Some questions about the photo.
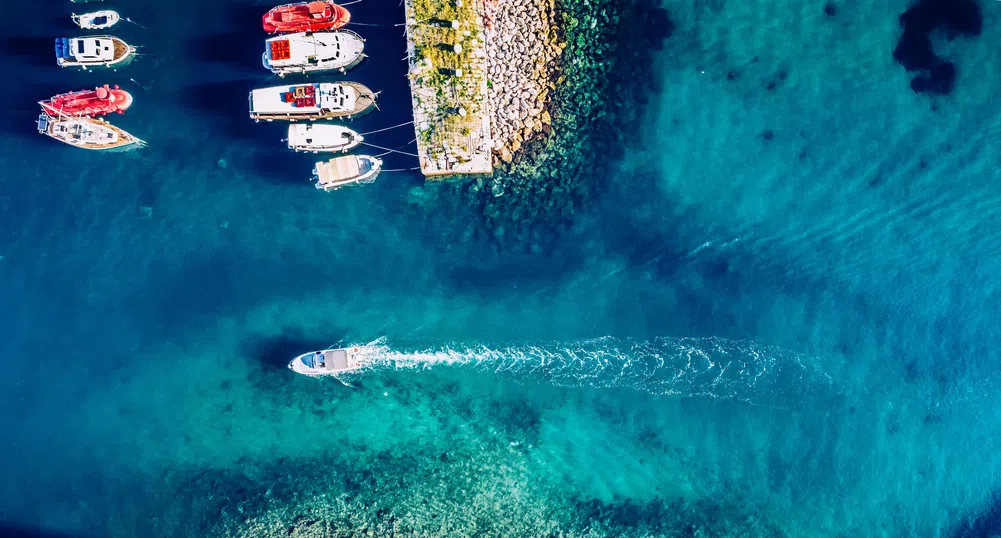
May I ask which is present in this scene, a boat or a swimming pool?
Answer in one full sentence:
The image shows a boat.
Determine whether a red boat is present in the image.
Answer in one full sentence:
Yes, looking at the shot, I can spot a red boat.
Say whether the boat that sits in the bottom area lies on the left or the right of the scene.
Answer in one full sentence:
You can find the boat that sits in the bottom area on the left side of the picture.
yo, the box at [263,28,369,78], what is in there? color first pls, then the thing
white boat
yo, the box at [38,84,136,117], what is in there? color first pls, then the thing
red boat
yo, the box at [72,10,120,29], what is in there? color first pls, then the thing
white boat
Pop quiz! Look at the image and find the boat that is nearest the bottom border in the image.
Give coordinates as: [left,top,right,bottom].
[286,347,366,375]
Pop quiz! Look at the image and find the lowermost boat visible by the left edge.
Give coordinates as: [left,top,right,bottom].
[35,102,149,150]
